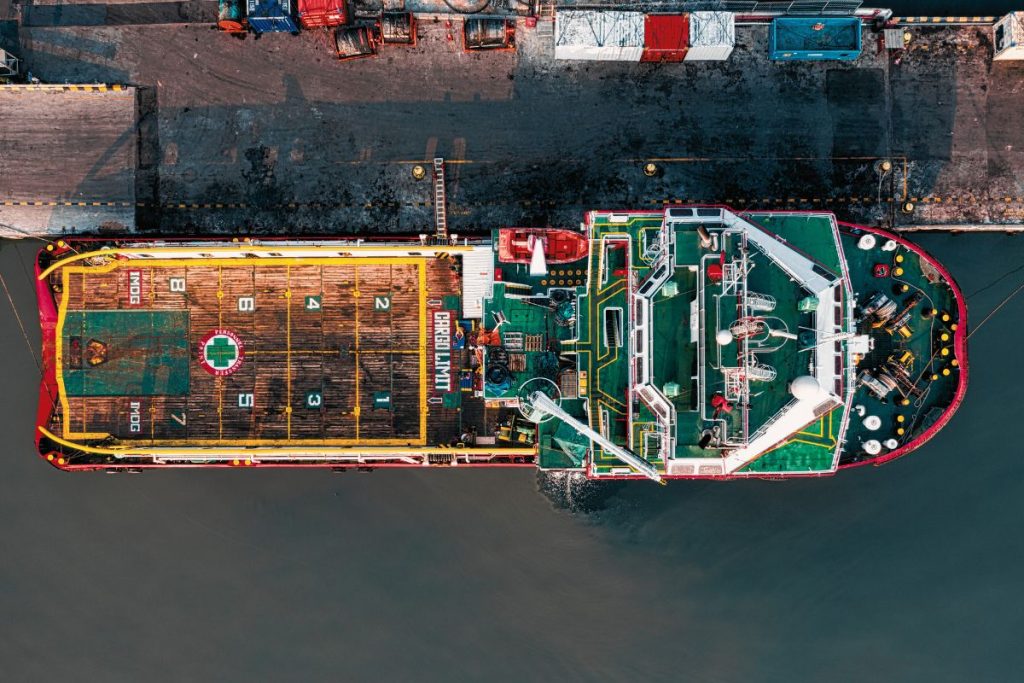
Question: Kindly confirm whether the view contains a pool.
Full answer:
No, there isn't any pool down there.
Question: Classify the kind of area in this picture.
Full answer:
The area seen from above is a port.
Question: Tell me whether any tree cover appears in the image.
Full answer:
No, tree cover can't be seen anywhere here.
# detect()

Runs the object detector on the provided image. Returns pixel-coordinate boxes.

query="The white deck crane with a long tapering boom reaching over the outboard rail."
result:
[519,374,669,488]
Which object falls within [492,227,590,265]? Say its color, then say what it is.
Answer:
red boat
